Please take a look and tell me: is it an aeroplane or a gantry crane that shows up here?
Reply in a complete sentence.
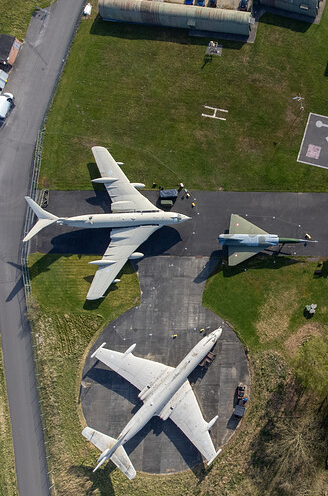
Visible in the photo is an aeroplane.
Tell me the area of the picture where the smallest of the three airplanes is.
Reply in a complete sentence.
The smallest of the three airplanes is in the right part of the image.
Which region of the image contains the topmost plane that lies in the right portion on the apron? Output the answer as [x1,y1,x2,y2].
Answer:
[215,215,311,267]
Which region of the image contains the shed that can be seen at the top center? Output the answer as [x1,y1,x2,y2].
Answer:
[98,0,253,35]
